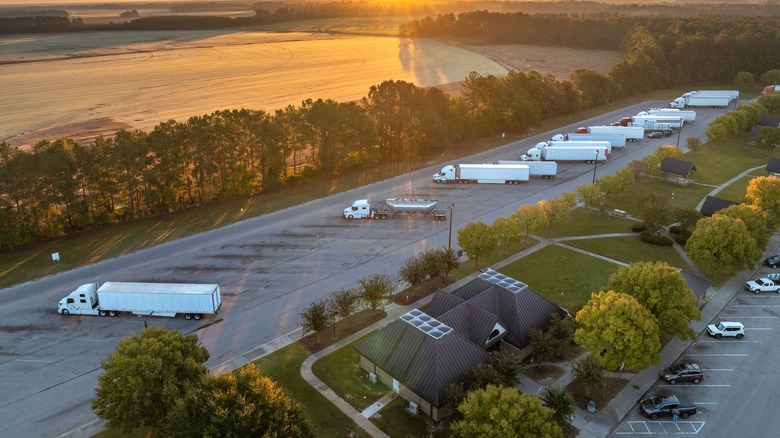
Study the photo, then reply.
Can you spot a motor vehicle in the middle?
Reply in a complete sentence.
Yes, in the middle there is a motor vehicle.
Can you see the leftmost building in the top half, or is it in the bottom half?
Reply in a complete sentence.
The bottom half of the photo is where the leftmost building is.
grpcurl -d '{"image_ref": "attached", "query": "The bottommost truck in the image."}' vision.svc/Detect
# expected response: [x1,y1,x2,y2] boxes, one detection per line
[638,395,696,420]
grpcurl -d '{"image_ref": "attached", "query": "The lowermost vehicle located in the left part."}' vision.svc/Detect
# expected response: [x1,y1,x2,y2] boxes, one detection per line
[57,282,213,319]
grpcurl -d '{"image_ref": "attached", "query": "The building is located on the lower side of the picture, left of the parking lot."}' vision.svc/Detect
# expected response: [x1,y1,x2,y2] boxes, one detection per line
[351,266,564,419]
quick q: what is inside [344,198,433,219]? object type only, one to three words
truck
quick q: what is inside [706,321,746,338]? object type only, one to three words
car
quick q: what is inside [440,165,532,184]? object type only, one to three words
vehicle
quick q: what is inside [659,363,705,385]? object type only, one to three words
car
